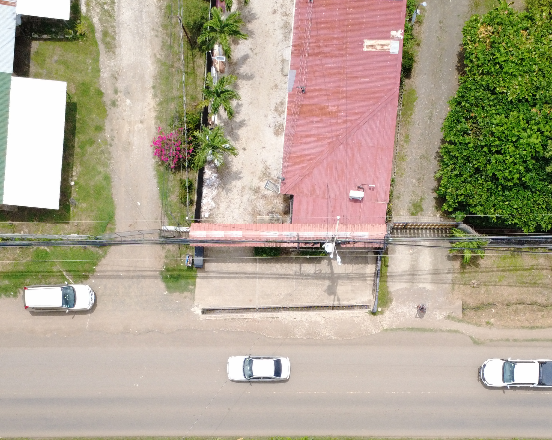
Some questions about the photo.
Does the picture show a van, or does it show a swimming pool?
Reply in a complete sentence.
There is a van in the scene.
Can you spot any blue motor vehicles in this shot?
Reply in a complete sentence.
No, the frame has no blue motor vehicle in it.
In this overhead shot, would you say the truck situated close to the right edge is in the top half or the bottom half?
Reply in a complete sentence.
The truck situated close to the right edge is in the bottom half of the image.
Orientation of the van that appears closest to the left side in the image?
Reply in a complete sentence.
In this picture, the van that appears closest to the left side lies from left to right.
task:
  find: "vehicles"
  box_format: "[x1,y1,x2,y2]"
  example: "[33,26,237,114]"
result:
[27,281,98,314]
[226,354,291,384]
[478,356,552,391]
